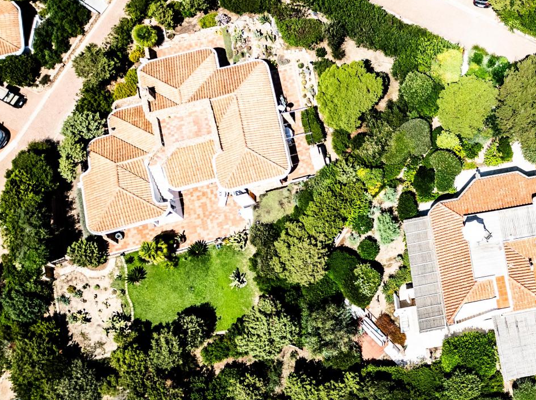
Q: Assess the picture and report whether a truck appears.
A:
No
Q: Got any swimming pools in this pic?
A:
No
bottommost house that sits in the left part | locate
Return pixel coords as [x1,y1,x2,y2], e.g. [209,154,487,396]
[80,46,293,234]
